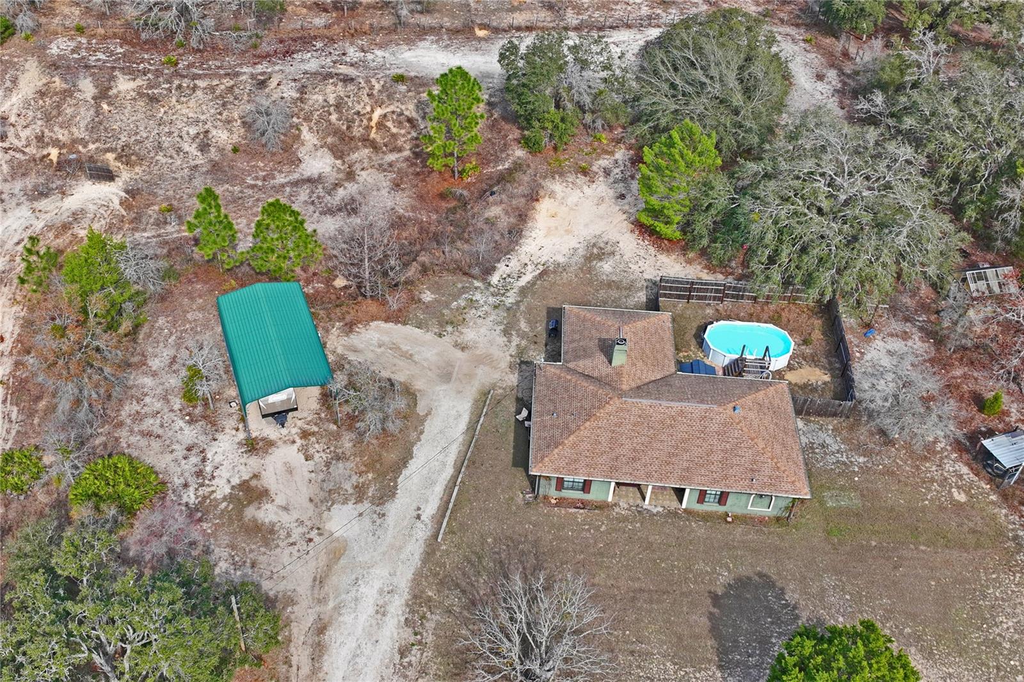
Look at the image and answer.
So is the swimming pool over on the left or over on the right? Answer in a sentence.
The swimming pool appears in the right half of the scene.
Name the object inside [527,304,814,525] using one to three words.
house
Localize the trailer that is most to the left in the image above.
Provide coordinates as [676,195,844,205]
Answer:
[263,390,308,433]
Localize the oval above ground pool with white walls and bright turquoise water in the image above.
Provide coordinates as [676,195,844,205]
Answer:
[699,318,796,374]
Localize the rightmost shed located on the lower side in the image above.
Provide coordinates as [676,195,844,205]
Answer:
[962,419,1024,492]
